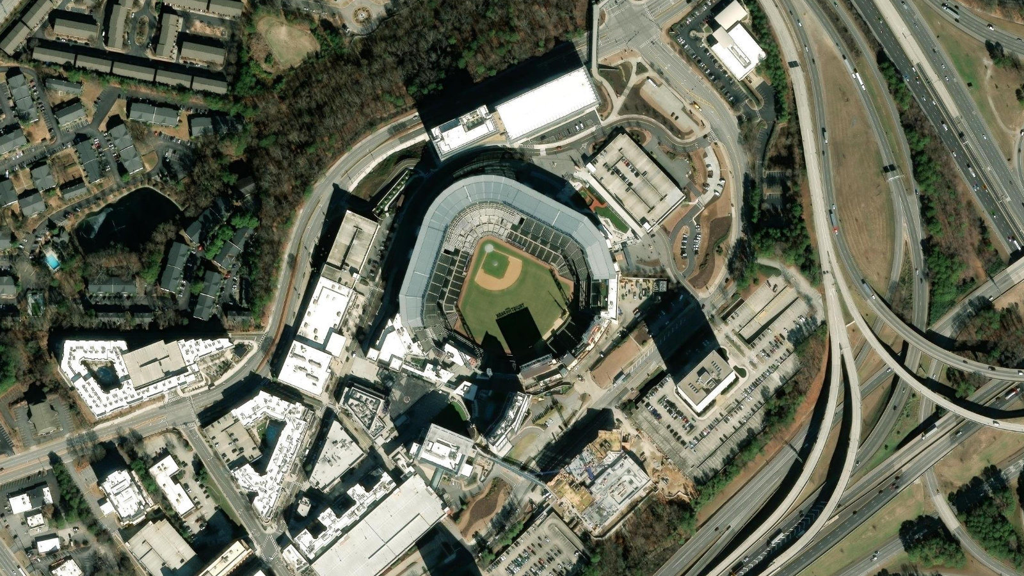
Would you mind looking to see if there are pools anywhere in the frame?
Yes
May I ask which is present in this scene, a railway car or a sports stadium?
sports stadium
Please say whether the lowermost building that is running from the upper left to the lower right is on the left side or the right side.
left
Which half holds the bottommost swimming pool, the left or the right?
left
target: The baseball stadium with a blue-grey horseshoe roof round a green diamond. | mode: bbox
[399,159,616,361]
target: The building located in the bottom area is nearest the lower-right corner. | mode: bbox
[678,350,735,411]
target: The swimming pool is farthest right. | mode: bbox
[264,422,284,455]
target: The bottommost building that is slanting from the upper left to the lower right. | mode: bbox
[283,544,309,572]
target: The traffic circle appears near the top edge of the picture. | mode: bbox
[344,0,381,35]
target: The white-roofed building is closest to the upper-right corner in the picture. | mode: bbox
[711,0,766,79]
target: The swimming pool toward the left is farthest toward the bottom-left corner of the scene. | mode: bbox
[97,365,113,381]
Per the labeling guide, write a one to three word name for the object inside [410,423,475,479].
building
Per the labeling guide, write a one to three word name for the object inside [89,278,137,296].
house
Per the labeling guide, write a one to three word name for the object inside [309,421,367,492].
building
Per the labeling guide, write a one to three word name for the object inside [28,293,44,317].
greenhouse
